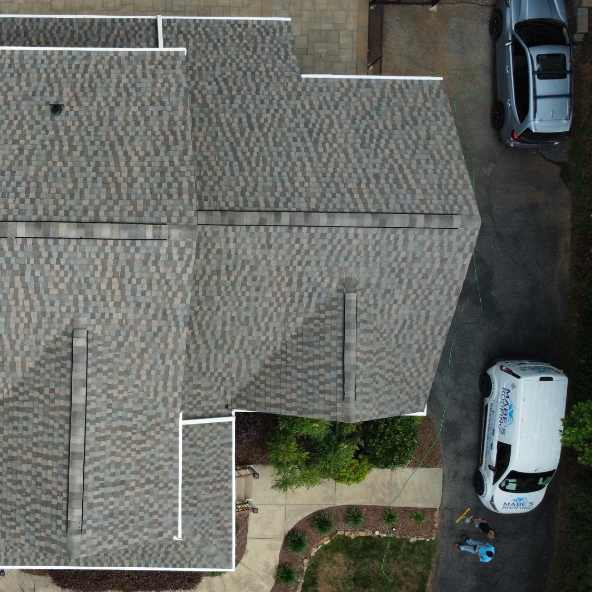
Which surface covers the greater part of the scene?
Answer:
buildings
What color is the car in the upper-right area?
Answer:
black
